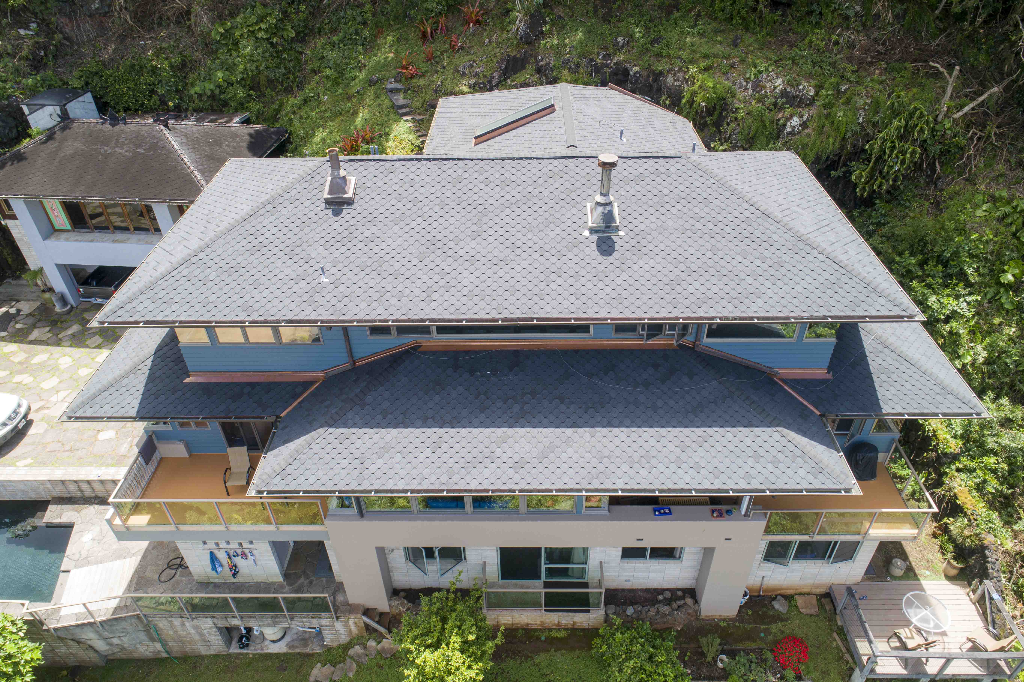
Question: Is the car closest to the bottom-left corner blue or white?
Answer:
white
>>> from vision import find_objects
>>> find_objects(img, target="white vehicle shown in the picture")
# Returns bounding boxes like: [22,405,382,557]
[0,388,42,447]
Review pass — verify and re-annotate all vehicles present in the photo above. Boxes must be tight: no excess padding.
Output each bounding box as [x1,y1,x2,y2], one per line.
[74,268,137,300]
[0,388,42,447]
